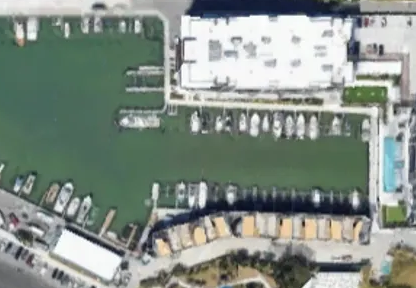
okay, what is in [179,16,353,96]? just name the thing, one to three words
building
